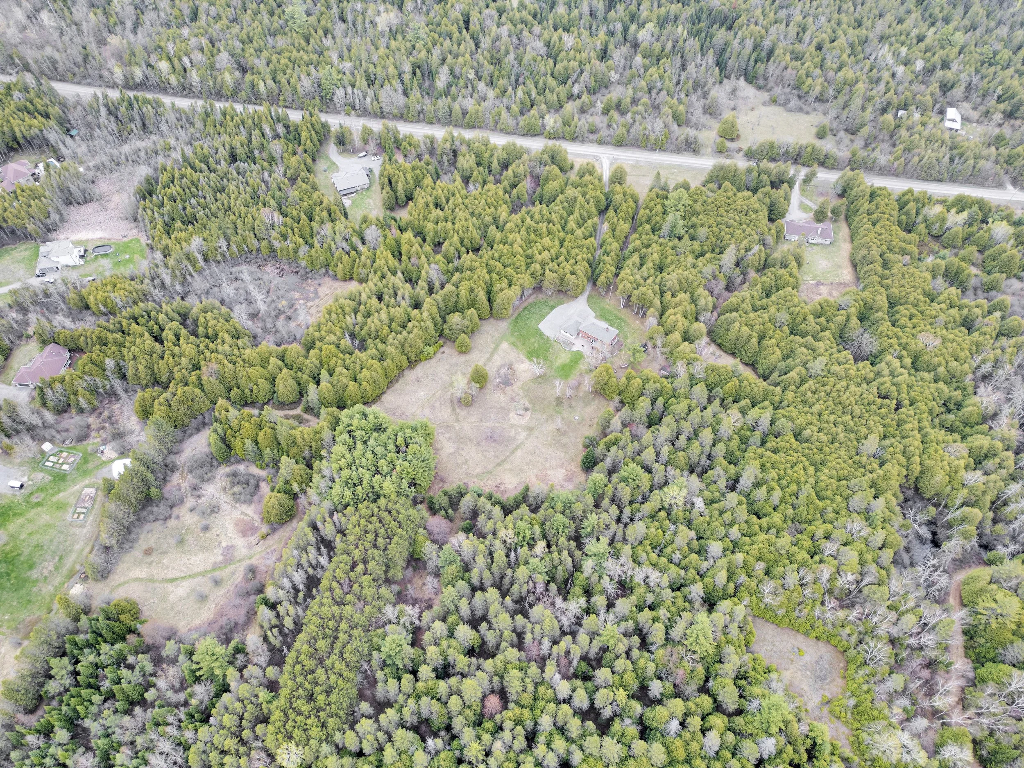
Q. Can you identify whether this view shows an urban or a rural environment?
rural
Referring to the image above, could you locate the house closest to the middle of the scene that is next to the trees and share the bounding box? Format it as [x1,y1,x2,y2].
[561,316,620,356]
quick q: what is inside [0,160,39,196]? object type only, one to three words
house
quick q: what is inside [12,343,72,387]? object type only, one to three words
house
